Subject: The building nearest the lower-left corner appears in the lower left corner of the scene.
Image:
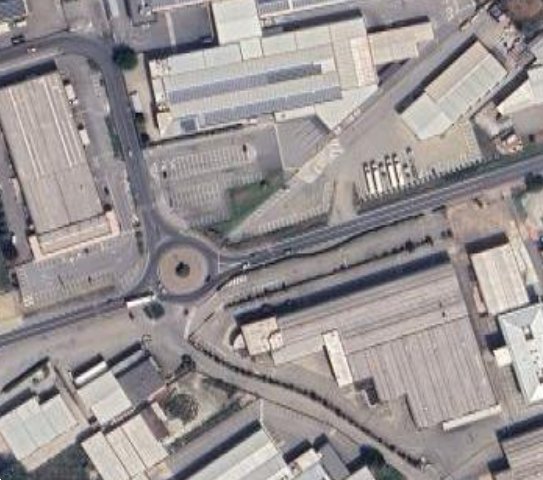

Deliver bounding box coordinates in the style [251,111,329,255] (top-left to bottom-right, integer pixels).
[0,395,81,471]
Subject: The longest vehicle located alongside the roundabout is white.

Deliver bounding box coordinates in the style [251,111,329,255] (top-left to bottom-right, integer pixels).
[126,293,155,306]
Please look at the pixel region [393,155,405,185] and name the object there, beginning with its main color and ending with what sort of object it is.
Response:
white vehicle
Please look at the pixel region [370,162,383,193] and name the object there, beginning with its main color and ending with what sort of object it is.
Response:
white vehicle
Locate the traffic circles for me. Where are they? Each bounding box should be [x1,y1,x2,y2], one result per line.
[149,237,218,305]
